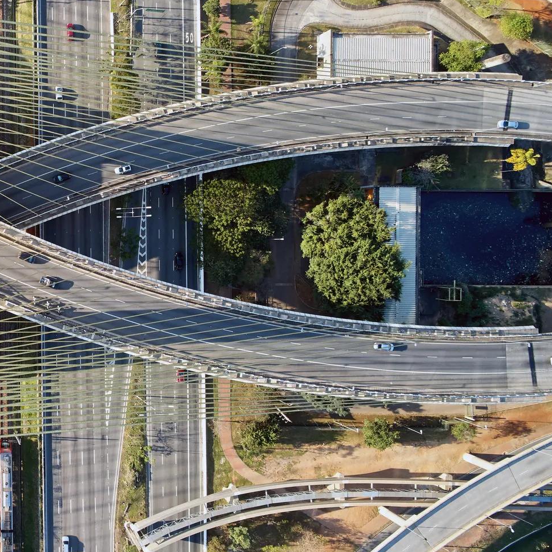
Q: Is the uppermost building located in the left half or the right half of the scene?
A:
right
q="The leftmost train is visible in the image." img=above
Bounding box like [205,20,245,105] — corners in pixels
[0,438,12,552]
